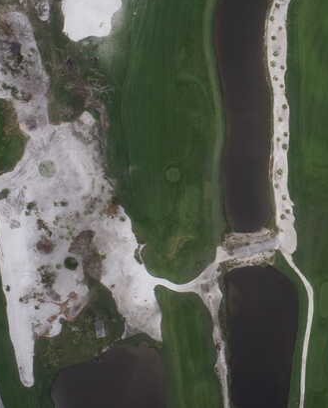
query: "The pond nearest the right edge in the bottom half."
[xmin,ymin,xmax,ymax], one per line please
[226,267,299,408]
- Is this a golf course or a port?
golf course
